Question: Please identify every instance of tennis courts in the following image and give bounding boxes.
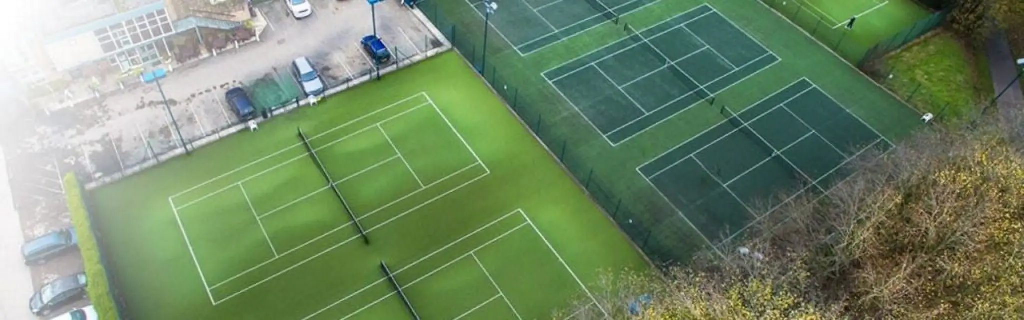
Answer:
[543,3,781,146]
[308,209,606,320]
[637,77,896,260]
[469,0,663,56]
[168,94,487,305]
[793,0,889,29]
